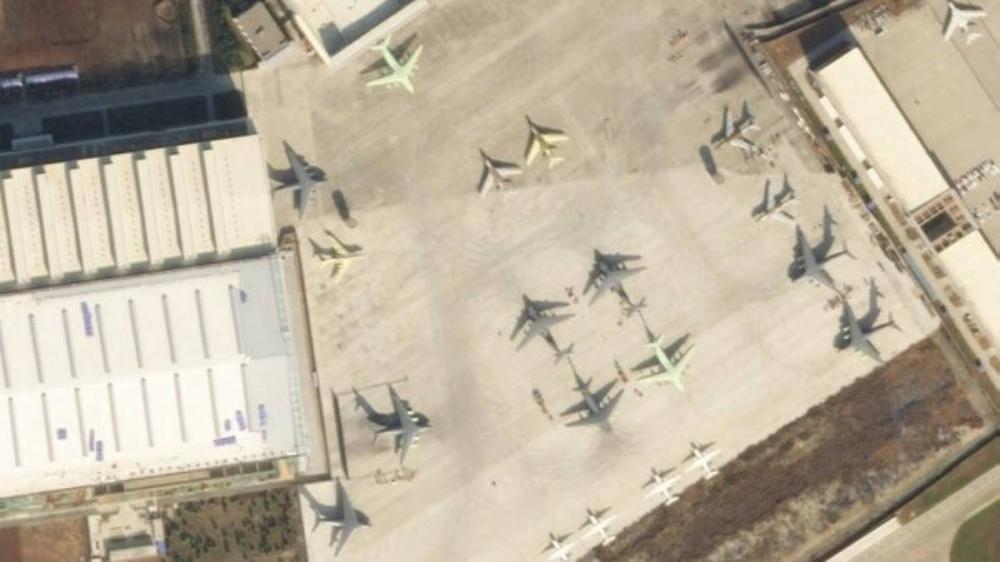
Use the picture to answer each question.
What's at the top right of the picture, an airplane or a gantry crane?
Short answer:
airplane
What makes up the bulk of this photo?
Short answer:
paved ground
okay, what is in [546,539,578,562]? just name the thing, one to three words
airplane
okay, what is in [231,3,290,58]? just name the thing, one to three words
building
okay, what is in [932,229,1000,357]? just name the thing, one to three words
hangar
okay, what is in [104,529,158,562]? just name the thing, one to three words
house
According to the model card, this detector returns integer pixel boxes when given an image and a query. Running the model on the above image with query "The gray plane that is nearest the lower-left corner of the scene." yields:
[312,487,372,556]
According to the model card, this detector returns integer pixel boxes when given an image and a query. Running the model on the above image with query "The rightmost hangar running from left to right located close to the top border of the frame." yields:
[280,0,441,67]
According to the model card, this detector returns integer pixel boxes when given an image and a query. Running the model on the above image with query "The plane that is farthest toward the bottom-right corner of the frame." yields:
[831,302,896,365]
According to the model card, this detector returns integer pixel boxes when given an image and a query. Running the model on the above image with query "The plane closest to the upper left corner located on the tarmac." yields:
[265,151,324,220]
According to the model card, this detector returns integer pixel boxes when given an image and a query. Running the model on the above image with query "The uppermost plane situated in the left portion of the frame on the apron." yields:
[366,32,422,93]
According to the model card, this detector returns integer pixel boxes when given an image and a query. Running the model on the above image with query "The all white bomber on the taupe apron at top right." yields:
[945,0,986,43]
